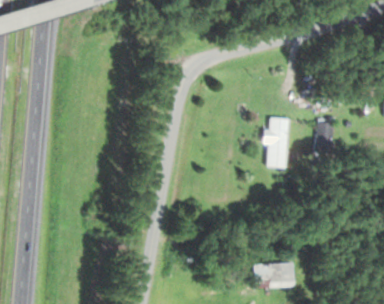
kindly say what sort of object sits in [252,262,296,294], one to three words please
house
